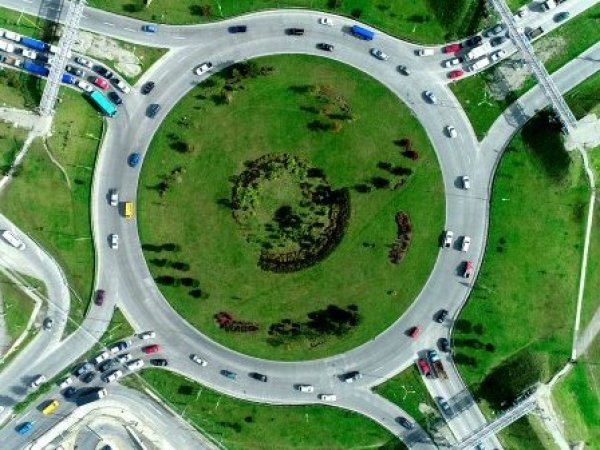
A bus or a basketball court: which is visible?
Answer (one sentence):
Of the two, only a bus appears.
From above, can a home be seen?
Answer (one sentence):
No, no home can be seen from above.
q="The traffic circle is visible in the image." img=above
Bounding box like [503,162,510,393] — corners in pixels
[95,11,488,402]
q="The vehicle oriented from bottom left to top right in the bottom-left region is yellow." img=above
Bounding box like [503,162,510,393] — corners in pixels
[43,401,59,414]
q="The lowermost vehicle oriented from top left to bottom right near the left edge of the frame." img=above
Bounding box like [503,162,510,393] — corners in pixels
[1,231,25,251]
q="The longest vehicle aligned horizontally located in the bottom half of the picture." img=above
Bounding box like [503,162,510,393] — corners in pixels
[72,388,108,405]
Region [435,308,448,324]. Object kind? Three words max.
vehicle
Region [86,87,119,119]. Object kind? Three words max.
bus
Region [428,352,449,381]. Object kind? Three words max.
vehicle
